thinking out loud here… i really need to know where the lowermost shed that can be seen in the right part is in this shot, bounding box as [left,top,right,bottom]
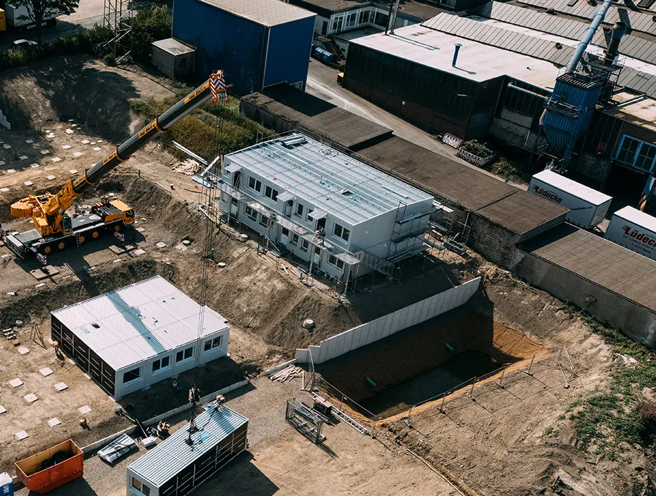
[514,222,656,335]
